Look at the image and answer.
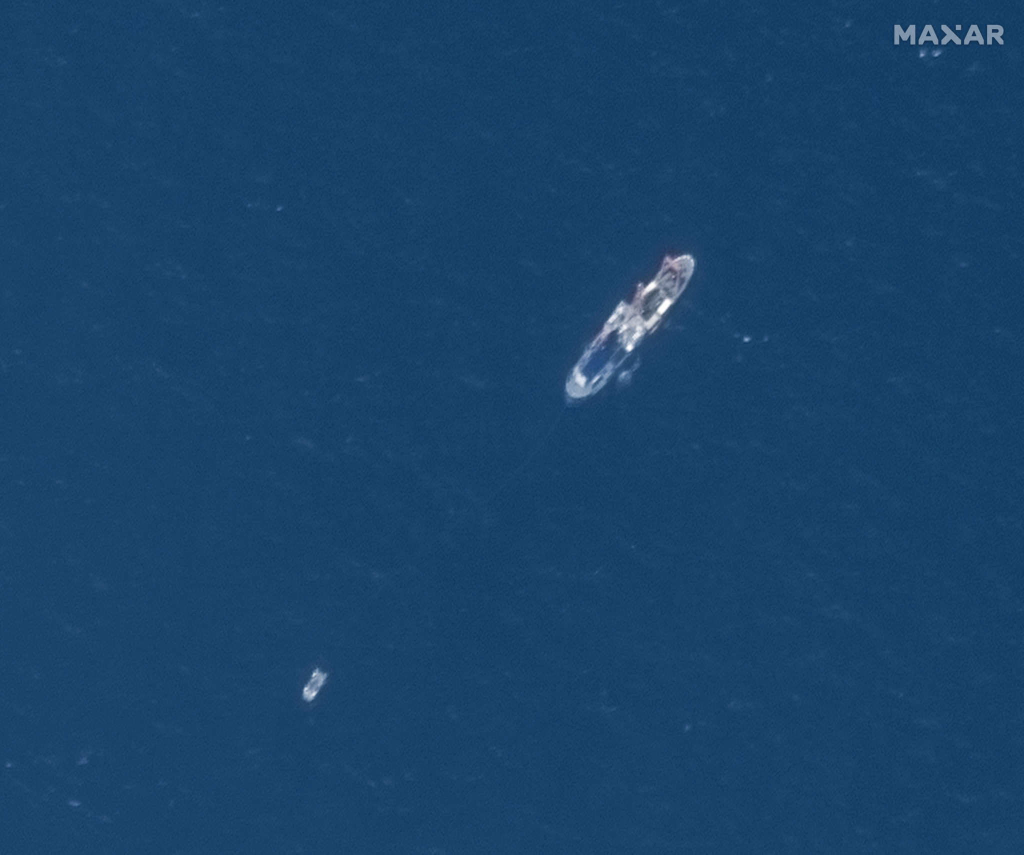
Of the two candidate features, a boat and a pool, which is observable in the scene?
boat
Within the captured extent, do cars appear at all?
No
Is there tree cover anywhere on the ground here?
No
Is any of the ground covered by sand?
No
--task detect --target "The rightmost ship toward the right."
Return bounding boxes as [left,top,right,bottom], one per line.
[566,254,694,398]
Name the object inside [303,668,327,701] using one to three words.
boat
